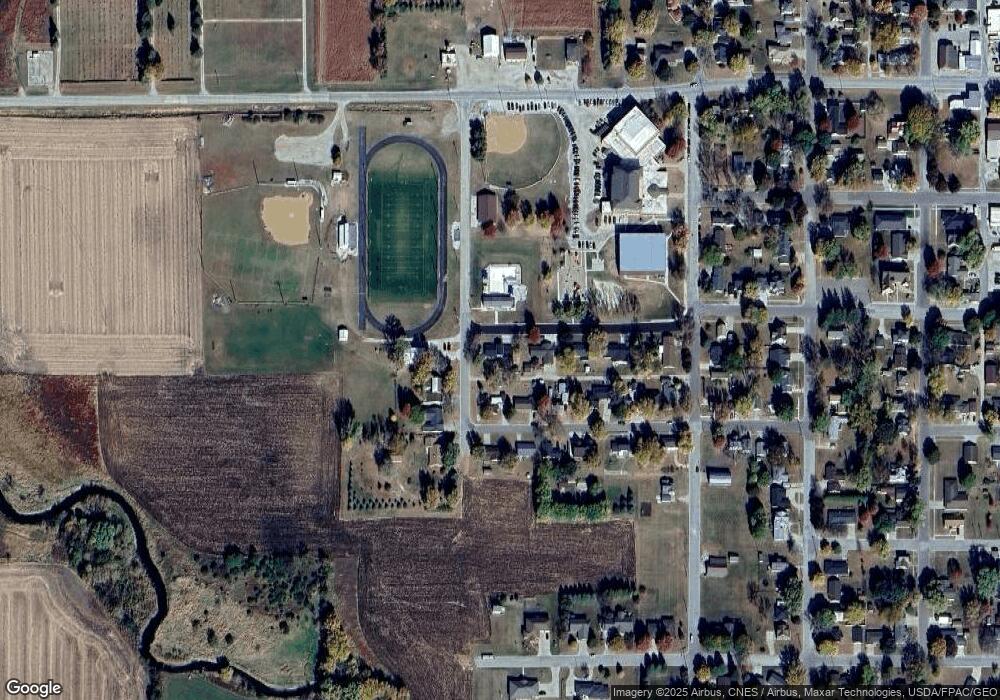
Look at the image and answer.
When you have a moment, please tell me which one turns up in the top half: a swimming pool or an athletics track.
athletics track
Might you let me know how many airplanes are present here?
none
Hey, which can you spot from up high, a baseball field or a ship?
baseball field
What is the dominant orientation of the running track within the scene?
vertically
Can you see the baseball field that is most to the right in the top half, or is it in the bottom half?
top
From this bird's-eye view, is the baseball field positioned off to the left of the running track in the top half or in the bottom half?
top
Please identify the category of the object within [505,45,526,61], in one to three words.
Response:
building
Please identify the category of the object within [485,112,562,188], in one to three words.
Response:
baseball field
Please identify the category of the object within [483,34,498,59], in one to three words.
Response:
barn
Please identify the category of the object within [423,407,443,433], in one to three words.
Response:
house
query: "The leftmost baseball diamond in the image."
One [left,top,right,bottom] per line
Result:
[261,190,314,246]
